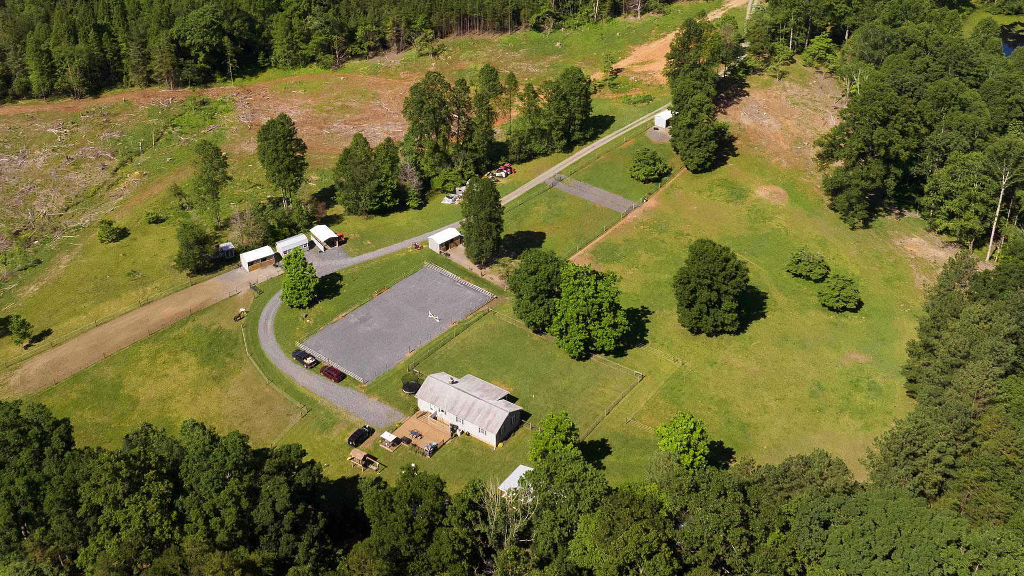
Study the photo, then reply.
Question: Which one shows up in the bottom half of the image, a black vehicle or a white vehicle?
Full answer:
It is a black vehicle that can be seen in the bottom half of the image.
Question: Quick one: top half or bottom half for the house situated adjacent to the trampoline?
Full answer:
It is in the bottom half that the house situated adjacent to the trampoline appears.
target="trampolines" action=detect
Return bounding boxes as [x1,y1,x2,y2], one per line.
[401,376,420,395]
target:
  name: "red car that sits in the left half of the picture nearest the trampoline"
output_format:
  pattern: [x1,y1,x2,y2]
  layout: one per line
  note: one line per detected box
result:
[320,366,343,381]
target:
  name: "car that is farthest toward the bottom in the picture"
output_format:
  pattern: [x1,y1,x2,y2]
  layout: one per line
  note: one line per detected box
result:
[348,429,374,447]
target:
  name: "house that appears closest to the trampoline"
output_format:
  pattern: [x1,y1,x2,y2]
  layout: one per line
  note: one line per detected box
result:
[415,372,522,450]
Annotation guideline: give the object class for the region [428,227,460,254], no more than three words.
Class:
shed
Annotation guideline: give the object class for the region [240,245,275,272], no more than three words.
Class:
shed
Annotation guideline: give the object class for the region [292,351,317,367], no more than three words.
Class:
vehicle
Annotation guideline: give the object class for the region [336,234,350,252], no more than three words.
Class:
work vehicle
